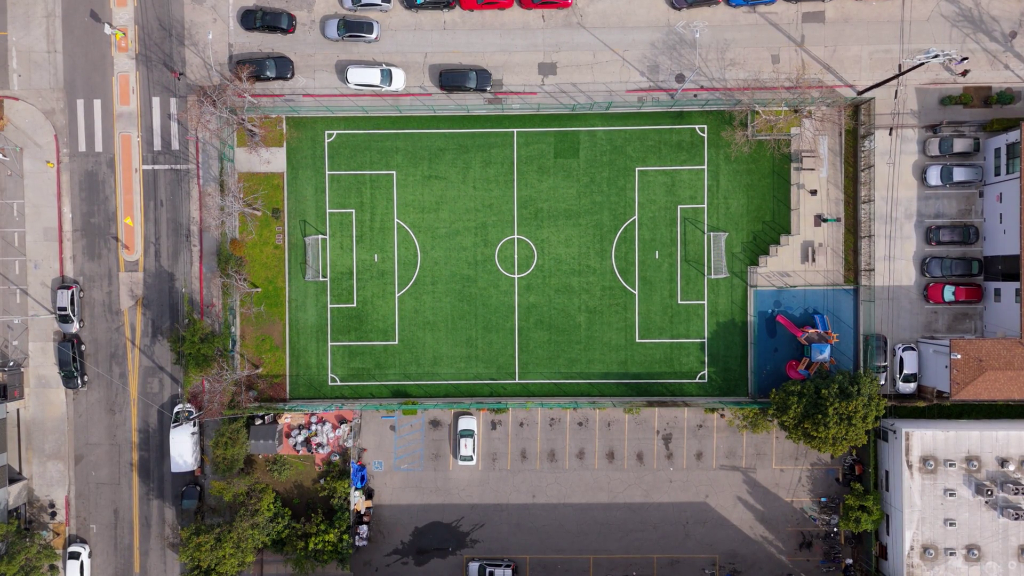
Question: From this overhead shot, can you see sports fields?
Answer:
Yes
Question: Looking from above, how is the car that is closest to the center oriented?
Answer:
up and down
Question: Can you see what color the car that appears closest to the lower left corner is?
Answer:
white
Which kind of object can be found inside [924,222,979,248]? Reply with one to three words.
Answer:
car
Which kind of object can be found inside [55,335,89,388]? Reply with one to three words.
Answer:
car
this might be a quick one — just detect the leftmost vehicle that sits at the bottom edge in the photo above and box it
[66,541,94,576]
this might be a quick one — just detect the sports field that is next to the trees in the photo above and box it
[242,107,791,399]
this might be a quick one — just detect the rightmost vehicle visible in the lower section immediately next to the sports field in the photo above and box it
[455,416,478,465]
